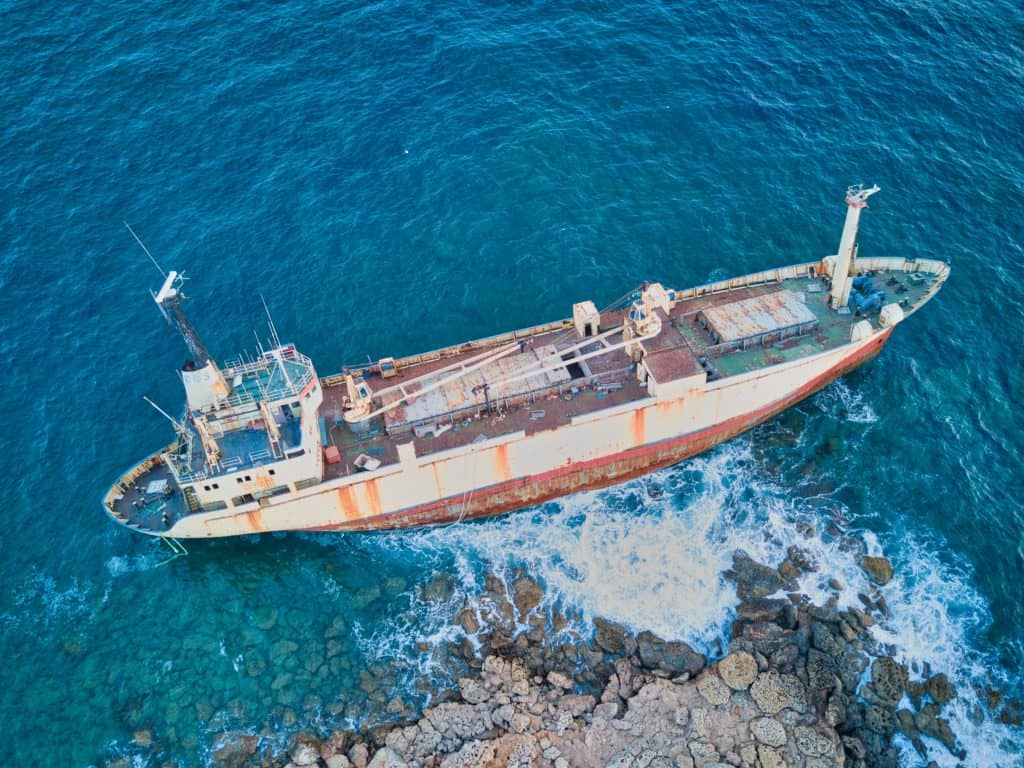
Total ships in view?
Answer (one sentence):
I count just 1 ship.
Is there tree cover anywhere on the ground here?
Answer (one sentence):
No, no tree cover is visible.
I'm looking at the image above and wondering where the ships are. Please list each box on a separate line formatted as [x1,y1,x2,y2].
[102,182,951,571]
